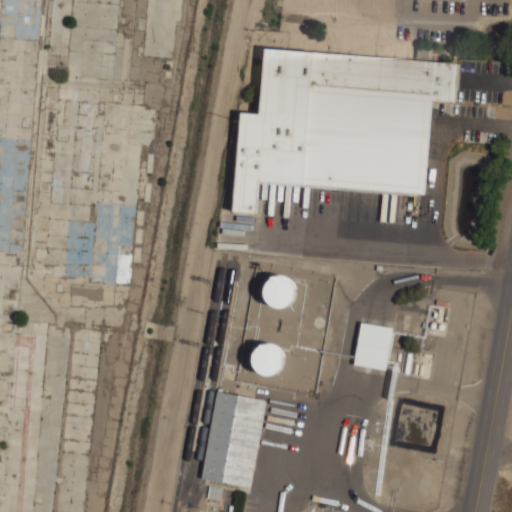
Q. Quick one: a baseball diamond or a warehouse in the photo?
warehouse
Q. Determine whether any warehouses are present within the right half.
Yes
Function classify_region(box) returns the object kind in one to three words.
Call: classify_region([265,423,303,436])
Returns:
vehicle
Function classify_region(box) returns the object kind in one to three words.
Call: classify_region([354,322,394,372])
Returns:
building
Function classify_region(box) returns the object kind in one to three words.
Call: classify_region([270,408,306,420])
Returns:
vehicle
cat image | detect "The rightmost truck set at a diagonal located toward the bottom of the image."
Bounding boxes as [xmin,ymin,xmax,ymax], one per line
[348,488,384,512]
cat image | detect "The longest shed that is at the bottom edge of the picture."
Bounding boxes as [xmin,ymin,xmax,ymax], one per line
[202,390,266,490]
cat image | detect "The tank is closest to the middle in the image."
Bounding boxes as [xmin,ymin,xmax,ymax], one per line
[262,275,298,310]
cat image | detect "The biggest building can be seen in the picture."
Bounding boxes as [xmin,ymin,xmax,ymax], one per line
[232,48,460,214]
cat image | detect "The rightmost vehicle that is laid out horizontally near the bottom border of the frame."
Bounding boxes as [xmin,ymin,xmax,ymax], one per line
[312,496,350,510]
